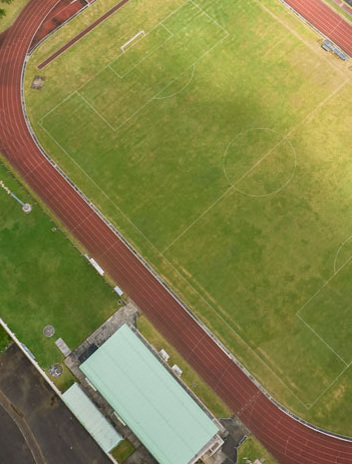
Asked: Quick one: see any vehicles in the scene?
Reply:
No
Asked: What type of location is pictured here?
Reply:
sports ground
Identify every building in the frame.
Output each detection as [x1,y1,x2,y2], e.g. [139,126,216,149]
[63,380,122,451]
[80,324,231,464]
